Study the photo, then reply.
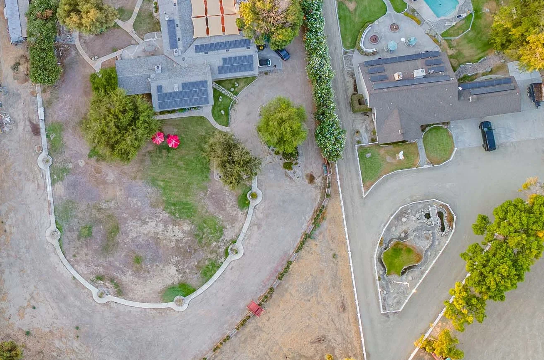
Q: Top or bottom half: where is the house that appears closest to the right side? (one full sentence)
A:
The house that appears closest to the right side is in the top half of the image.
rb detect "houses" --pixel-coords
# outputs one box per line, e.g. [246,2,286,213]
[355,52,522,143]
[116,0,258,112]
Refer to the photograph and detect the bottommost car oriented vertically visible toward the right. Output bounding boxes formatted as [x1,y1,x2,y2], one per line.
[479,121,497,152]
